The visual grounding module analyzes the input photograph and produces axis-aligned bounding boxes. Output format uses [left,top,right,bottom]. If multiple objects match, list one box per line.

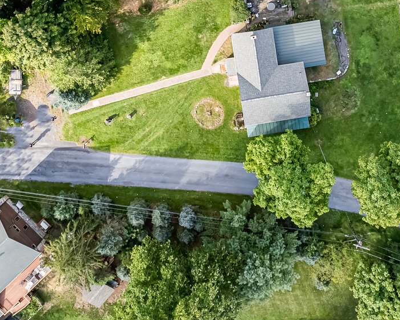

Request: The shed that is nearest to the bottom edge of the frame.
[82,281,109,307]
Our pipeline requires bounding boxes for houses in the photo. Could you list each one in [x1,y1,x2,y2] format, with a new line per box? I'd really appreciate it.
[220,20,326,137]
[0,202,43,293]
